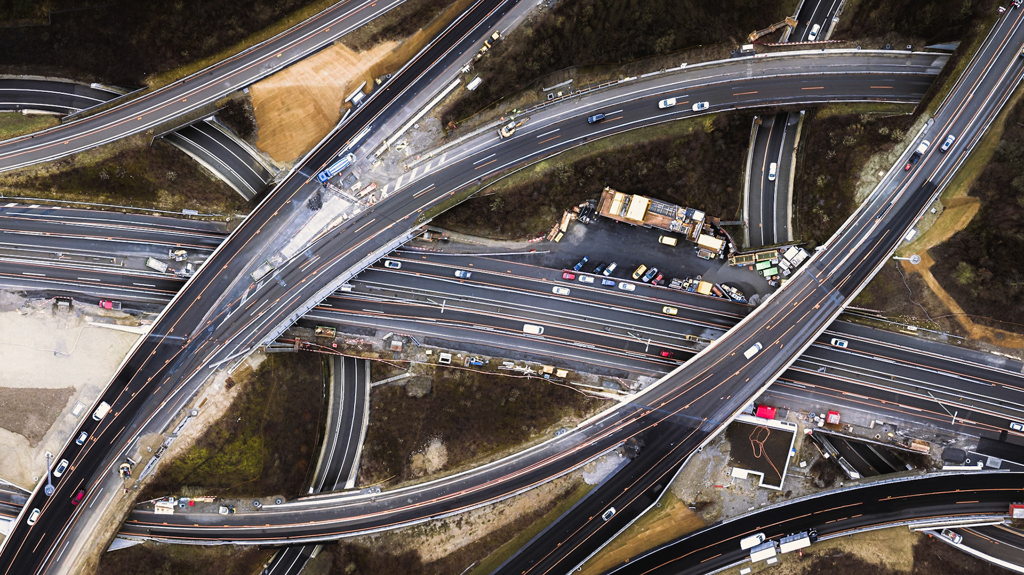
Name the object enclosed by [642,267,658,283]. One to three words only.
car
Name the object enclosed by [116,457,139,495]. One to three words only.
work vehicle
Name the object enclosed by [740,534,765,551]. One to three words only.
vehicle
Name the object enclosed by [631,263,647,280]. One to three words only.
car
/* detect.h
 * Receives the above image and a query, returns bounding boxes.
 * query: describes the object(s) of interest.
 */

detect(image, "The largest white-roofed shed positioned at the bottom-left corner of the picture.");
[155,496,178,515]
